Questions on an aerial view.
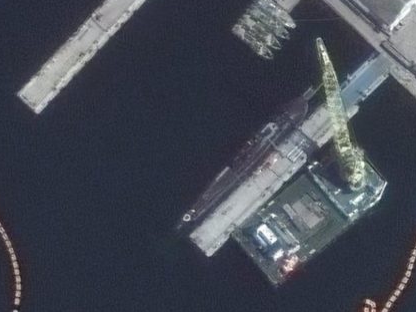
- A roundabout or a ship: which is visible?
ship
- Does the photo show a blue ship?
No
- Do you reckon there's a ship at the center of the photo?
Yes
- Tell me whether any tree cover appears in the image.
No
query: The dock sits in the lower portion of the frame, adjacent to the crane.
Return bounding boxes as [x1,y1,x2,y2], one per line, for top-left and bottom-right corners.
[191,126,318,256]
